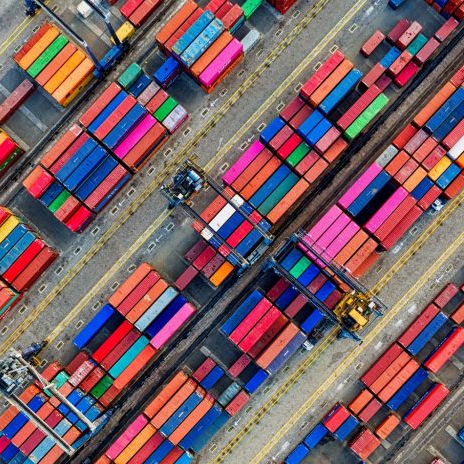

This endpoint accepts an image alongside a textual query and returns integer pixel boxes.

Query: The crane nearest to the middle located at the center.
[164,157,280,275]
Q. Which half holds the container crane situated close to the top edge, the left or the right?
left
